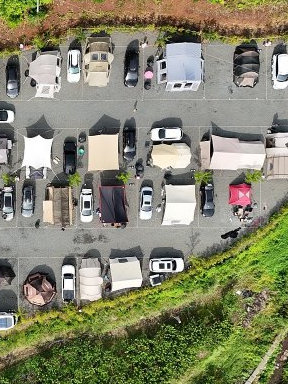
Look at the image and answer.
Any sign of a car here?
Yes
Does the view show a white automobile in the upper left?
Yes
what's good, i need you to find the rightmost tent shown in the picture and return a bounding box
[260,127,288,180]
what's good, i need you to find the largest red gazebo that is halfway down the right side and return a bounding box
[228,184,251,204]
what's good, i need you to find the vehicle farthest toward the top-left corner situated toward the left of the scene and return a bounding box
[5,64,20,98]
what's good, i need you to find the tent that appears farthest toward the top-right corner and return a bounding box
[231,44,263,87]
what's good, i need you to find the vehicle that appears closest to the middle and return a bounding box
[138,186,154,219]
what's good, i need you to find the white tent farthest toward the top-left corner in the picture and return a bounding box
[23,54,60,100]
